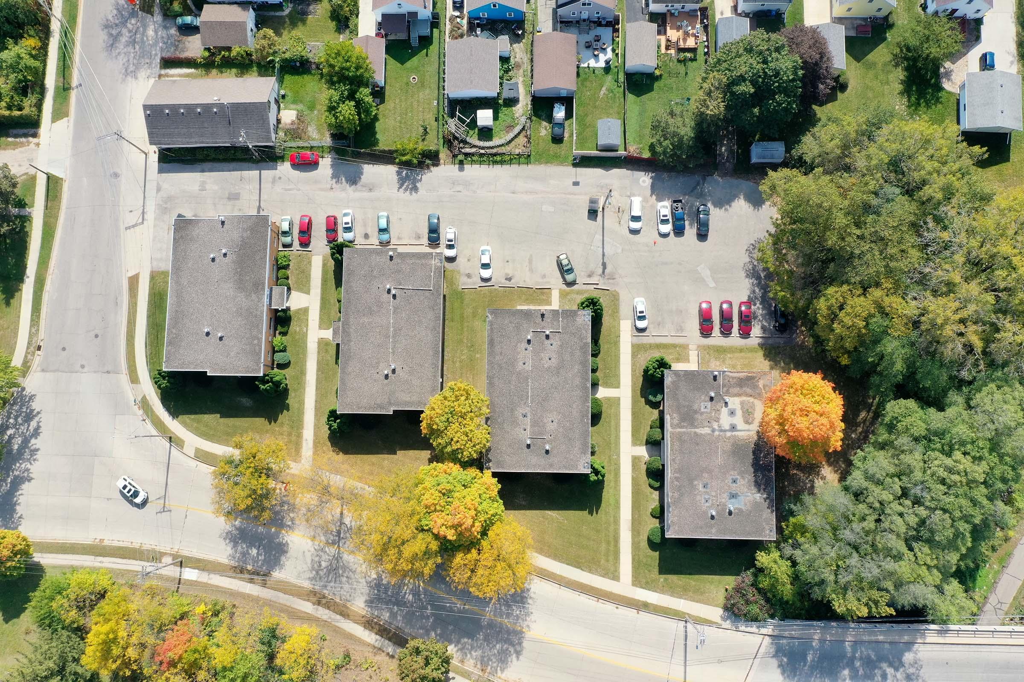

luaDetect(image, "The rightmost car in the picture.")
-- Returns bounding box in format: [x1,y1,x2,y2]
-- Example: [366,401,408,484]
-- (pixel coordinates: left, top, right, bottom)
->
[979,47,997,70]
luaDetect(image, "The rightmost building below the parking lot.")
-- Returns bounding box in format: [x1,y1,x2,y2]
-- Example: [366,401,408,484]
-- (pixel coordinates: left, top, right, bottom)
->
[660,370,776,540]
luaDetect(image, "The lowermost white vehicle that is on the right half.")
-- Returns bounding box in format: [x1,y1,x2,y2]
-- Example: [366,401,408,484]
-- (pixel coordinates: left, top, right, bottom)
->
[633,297,649,331]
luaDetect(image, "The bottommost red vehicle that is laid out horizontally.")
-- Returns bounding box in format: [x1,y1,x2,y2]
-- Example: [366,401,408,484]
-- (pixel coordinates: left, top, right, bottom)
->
[288,150,321,166]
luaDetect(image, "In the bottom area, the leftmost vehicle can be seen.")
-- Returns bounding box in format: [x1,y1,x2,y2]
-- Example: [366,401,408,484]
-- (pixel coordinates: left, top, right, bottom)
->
[114,476,148,505]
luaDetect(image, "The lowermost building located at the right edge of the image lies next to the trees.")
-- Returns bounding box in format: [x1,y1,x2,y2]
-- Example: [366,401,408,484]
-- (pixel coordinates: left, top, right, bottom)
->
[956,69,1023,136]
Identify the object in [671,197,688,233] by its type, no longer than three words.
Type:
vehicle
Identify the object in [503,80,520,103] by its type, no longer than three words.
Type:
shed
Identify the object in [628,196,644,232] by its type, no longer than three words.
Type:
car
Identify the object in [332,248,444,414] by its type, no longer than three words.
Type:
building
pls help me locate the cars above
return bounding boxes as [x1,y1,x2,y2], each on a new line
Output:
[340,210,357,243]
[628,196,644,232]
[114,476,148,505]
[288,150,321,166]
[633,297,649,331]
[478,246,493,280]
[718,300,735,335]
[698,300,715,335]
[452,0,464,7]
[279,215,296,247]
[443,223,458,259]
[556,251,577,285]
[656,202,672,235]
[426,213,441,245]
[773,301,790,335]
[375,211,391,244]
[979,47,997,70]
[323,214,339,243]
[737,301,754,336]
[296,214,313,247]
[695,203,711,236]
